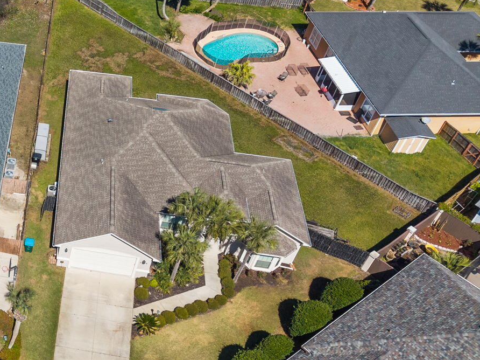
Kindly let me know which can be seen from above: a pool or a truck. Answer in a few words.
pool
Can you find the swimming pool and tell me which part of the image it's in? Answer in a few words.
top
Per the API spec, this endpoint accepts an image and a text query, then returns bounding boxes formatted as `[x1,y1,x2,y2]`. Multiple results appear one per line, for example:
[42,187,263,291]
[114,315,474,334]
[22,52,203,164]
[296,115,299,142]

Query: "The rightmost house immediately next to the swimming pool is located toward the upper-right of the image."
[302,11,480,137]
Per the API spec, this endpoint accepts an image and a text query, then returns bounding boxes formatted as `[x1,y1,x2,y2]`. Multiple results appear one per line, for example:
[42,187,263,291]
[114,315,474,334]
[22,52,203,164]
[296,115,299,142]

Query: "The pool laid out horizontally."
[192,28,290,70]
